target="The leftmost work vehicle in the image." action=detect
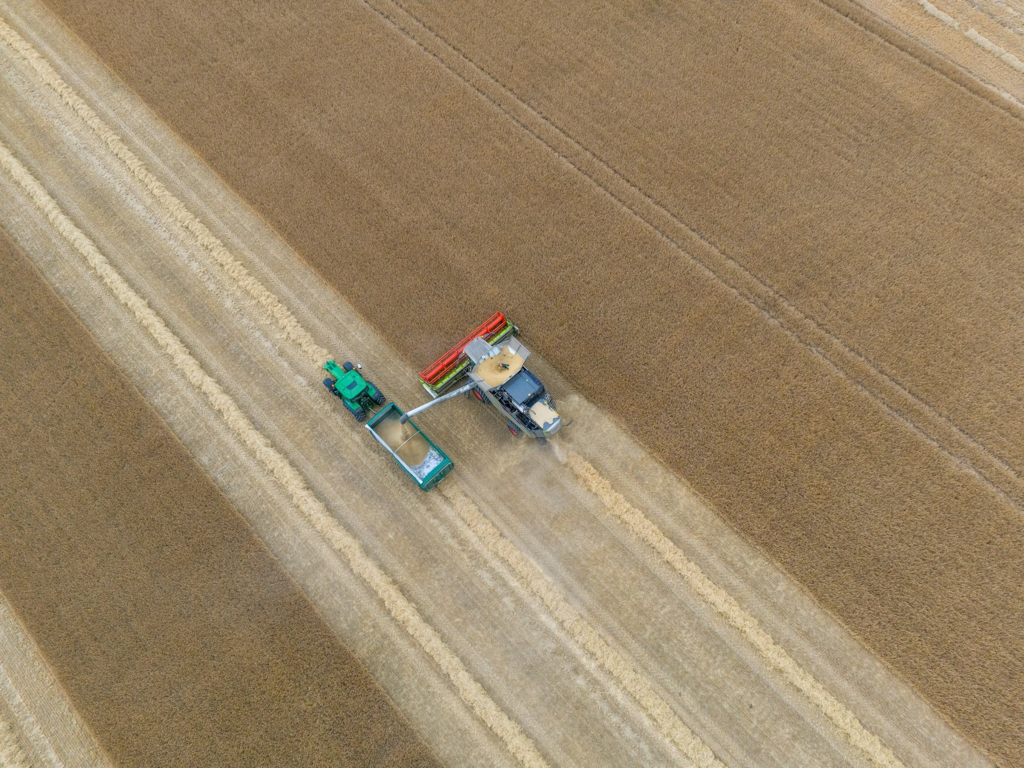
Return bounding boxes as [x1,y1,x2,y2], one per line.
[323,361,385,423]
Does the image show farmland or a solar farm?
farmland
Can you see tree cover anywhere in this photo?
No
